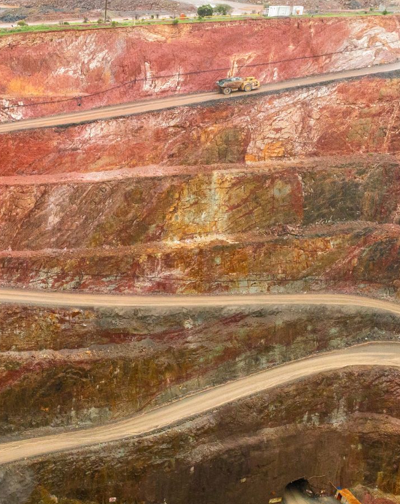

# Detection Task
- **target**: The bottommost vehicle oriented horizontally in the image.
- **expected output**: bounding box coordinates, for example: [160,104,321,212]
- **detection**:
[219,74,265,93]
